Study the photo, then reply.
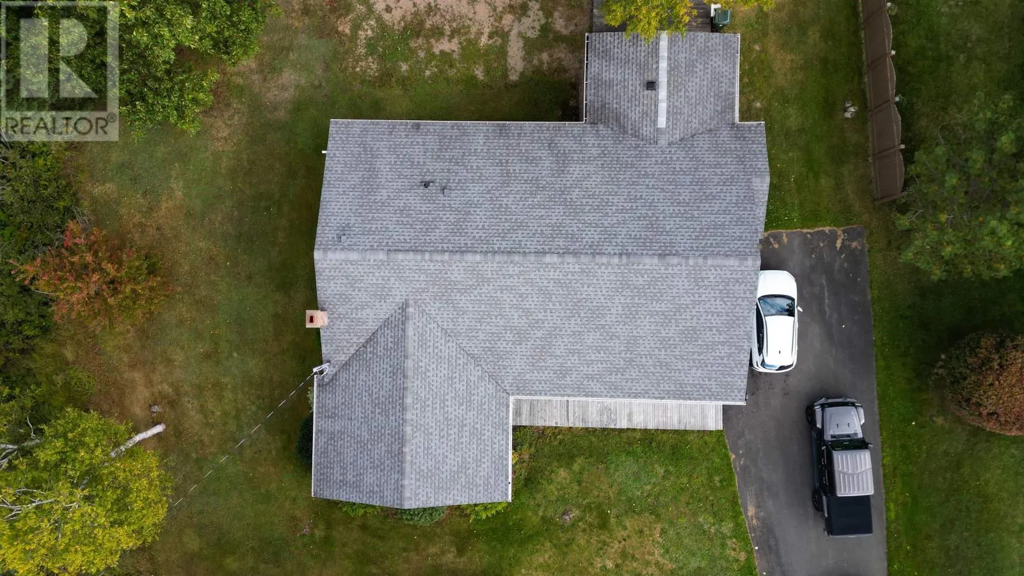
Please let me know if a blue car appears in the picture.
No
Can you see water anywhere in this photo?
No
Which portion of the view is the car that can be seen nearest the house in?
right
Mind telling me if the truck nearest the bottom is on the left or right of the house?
right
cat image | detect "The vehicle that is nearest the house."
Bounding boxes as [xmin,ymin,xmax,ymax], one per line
[749,270,804,375]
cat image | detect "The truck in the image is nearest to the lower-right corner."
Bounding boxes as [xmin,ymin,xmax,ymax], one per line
[804,395,874,541]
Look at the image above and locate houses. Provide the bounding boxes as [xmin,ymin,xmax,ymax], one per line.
[305,30,770,509]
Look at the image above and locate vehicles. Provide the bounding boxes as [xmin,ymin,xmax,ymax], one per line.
[749,270,804,375]
[804,395,874,541]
